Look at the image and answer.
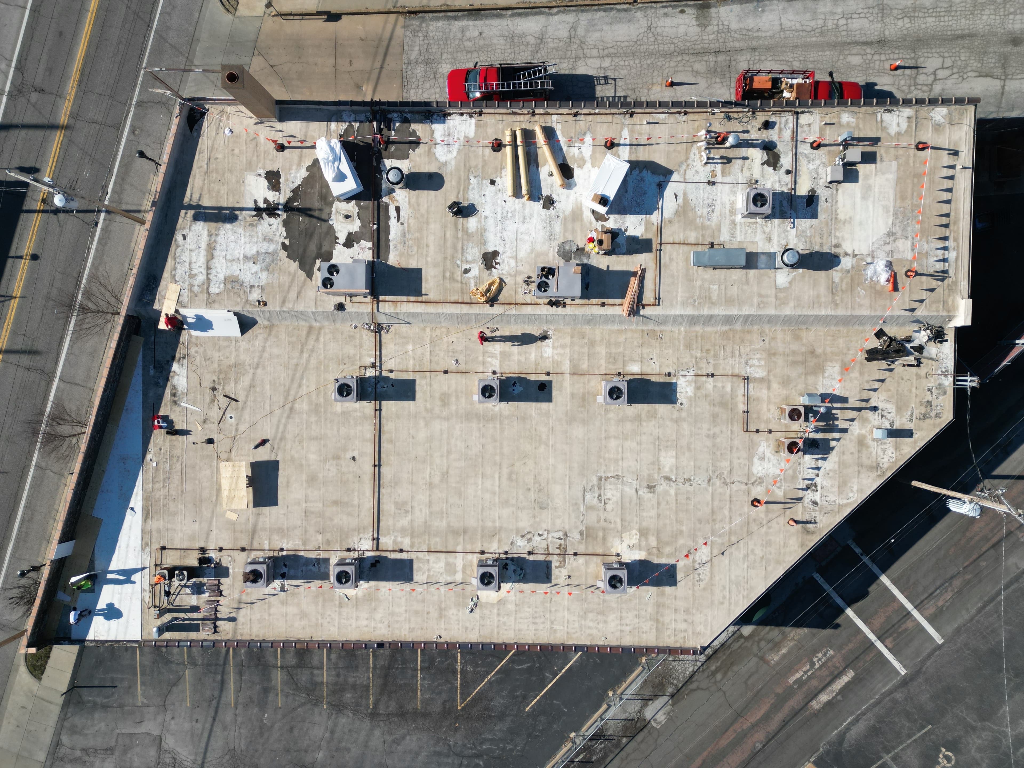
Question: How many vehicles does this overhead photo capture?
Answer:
2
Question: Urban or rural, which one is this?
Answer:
urban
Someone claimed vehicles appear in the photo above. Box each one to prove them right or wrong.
[447,61,551,98]
[731,68,862,97]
